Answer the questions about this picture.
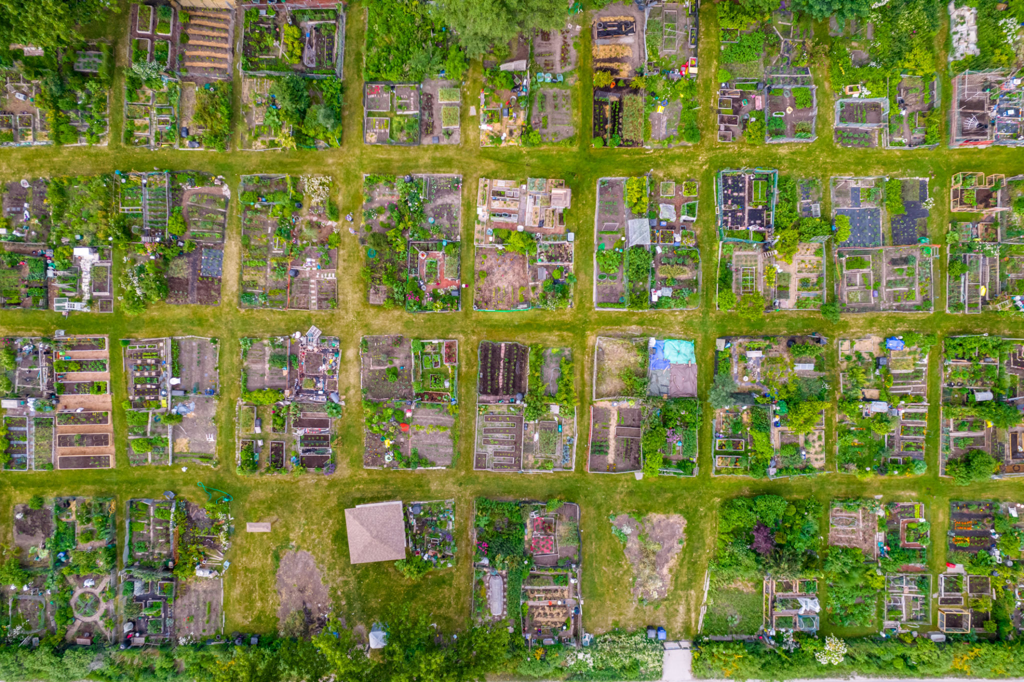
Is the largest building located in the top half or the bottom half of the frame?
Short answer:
bottom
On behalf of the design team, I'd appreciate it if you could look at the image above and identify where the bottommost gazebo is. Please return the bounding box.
[369,625,390,650]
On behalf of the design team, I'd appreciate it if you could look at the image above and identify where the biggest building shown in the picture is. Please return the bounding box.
[344,498,409,565]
